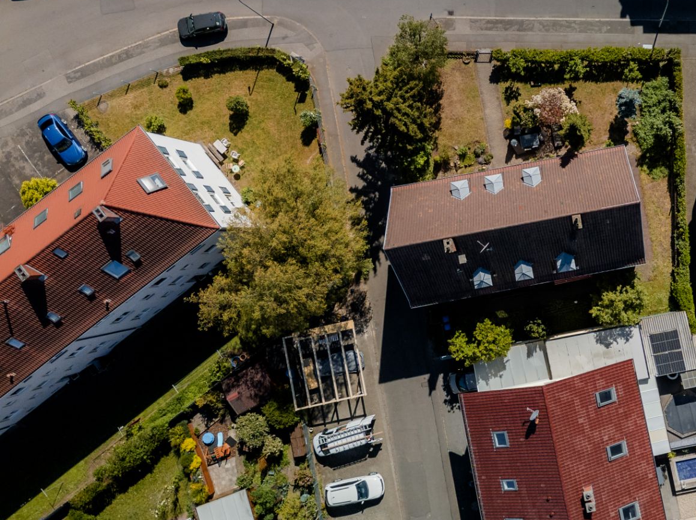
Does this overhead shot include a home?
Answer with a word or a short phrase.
Yes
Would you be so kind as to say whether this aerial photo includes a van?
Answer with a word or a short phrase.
Yes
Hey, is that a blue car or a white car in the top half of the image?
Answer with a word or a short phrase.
blue car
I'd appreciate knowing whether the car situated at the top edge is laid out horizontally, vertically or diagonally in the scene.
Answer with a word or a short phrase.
horizontally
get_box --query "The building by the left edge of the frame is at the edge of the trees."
[0,125,259,412]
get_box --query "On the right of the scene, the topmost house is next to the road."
[383,144,645,308]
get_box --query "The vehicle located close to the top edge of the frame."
[173,12,225,38]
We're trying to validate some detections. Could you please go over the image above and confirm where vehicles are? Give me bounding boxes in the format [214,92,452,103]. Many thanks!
[322,475,383,508]
[312,421,381,459]
[173,12,225,38]
[449,374,478,397]
[33,115,83,168]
